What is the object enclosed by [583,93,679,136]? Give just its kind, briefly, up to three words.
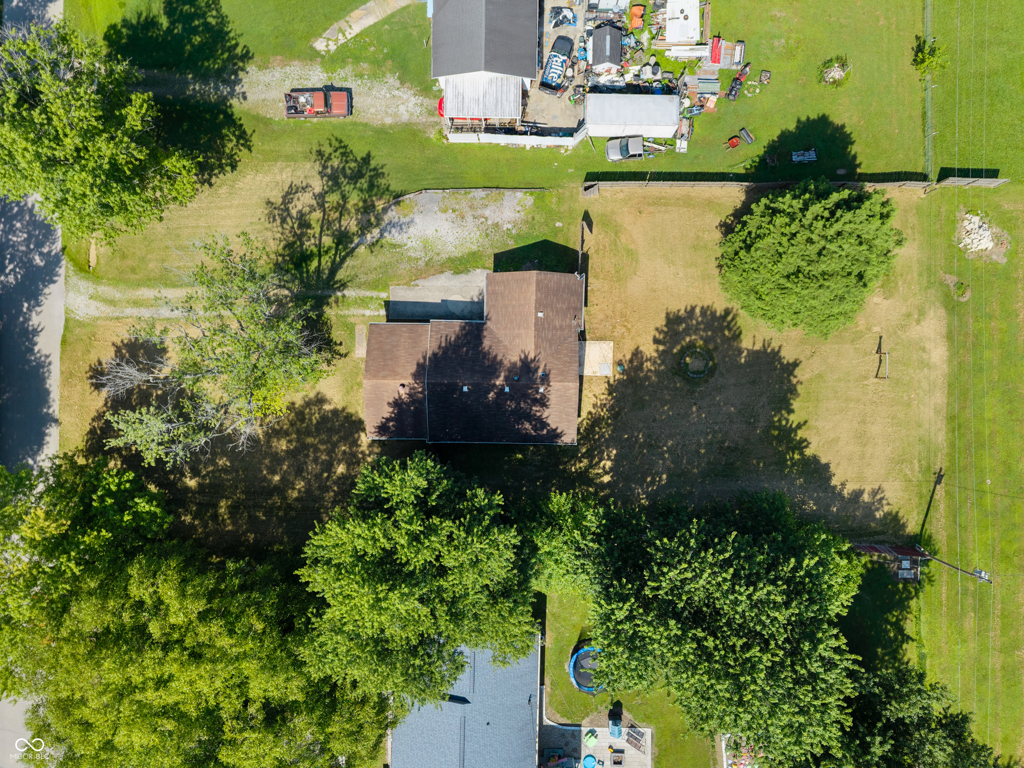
trailer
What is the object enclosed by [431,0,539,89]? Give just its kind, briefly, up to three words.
house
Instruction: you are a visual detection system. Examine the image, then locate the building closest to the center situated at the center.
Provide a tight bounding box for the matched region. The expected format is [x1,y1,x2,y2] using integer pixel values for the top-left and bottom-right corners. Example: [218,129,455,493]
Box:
[364,270,586,446]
